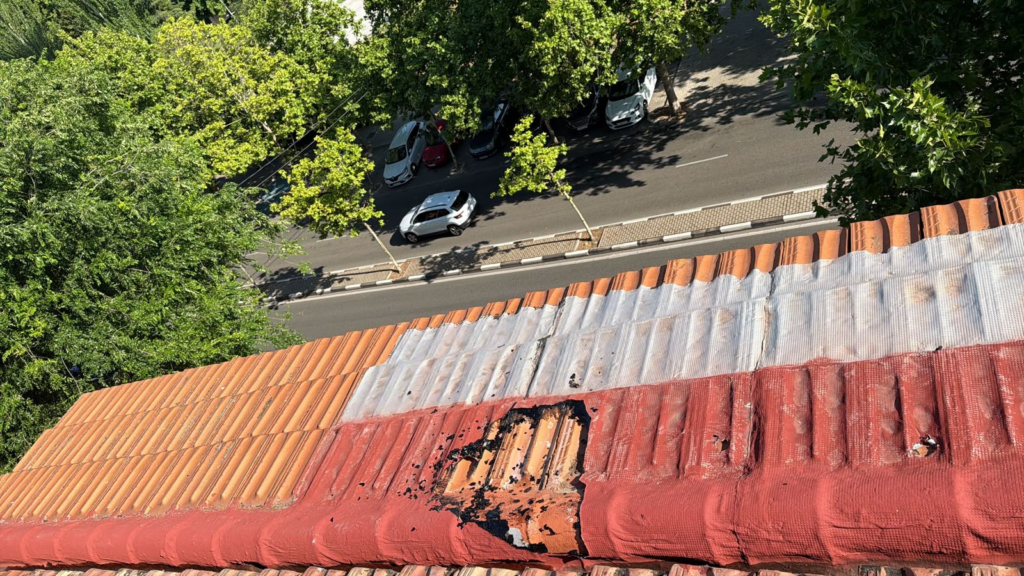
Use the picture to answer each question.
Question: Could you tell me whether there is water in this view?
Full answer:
No, the picture contains no water.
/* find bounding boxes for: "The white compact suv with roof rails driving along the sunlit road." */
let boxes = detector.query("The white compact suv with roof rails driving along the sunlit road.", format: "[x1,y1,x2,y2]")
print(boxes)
[396,189,478,245]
